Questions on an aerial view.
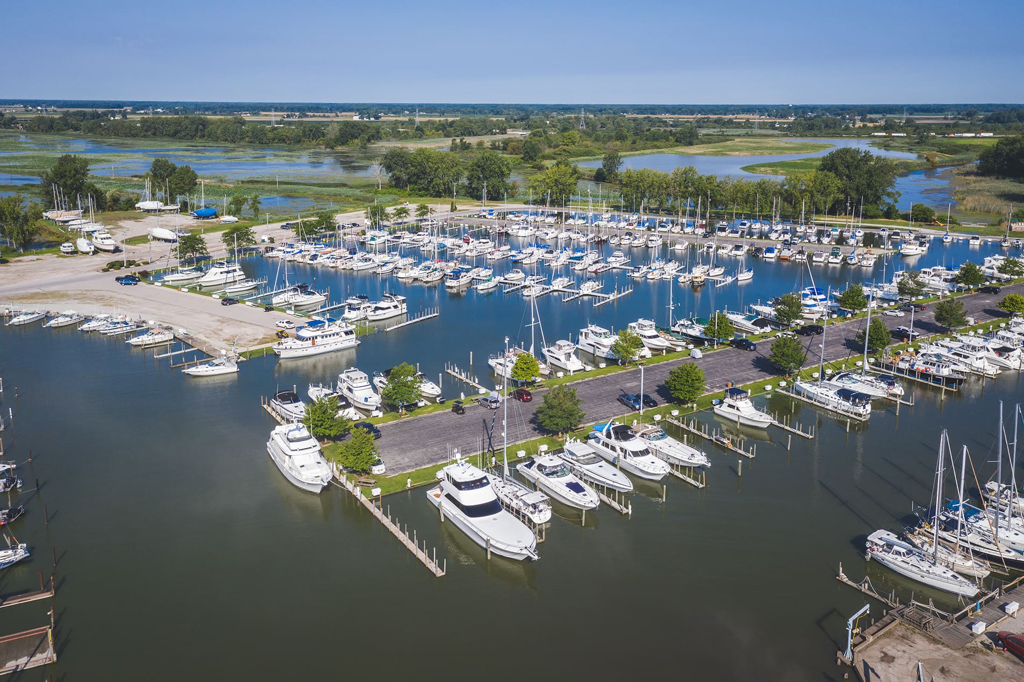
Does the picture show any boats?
Yes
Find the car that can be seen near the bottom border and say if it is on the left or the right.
right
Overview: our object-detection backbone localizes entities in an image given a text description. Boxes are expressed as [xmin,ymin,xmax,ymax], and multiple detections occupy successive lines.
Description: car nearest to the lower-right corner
[991,629,1024,652]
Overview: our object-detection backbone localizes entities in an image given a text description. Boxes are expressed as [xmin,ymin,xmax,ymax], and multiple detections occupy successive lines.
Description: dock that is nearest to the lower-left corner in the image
[0,626,56,681]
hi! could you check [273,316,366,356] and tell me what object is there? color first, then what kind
white boat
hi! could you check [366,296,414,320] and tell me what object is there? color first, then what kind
white boat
